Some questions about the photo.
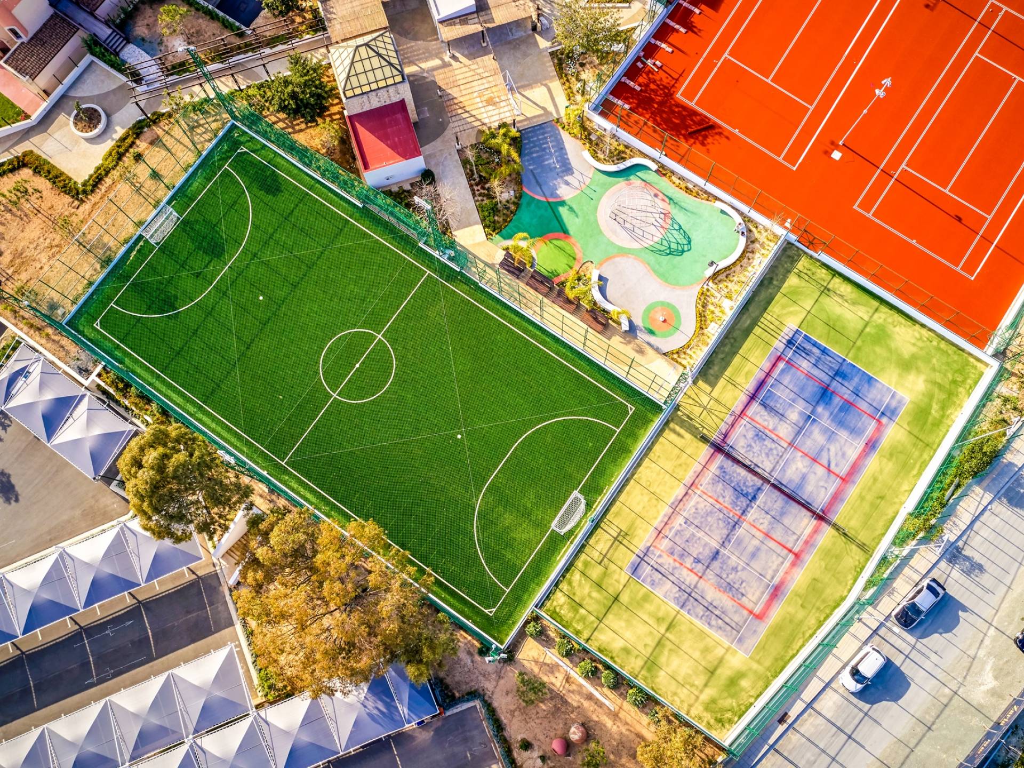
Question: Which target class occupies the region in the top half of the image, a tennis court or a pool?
tennis court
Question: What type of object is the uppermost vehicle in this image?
car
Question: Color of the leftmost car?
white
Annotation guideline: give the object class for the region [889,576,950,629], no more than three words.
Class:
car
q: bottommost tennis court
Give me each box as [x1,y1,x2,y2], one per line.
[541,242,999,743]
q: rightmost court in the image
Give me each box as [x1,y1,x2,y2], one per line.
[791,0,1024,354]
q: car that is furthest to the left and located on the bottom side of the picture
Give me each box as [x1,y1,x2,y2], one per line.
[836,640,890,694]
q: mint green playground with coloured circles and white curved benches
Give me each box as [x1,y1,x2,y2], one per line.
[491,120,739,353]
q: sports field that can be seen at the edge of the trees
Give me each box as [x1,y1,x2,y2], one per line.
[62,122,666,649]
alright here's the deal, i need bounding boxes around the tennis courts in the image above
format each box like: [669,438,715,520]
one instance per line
[541,242,999,743]
[791,0,1024,354]
[593,0,947,234]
